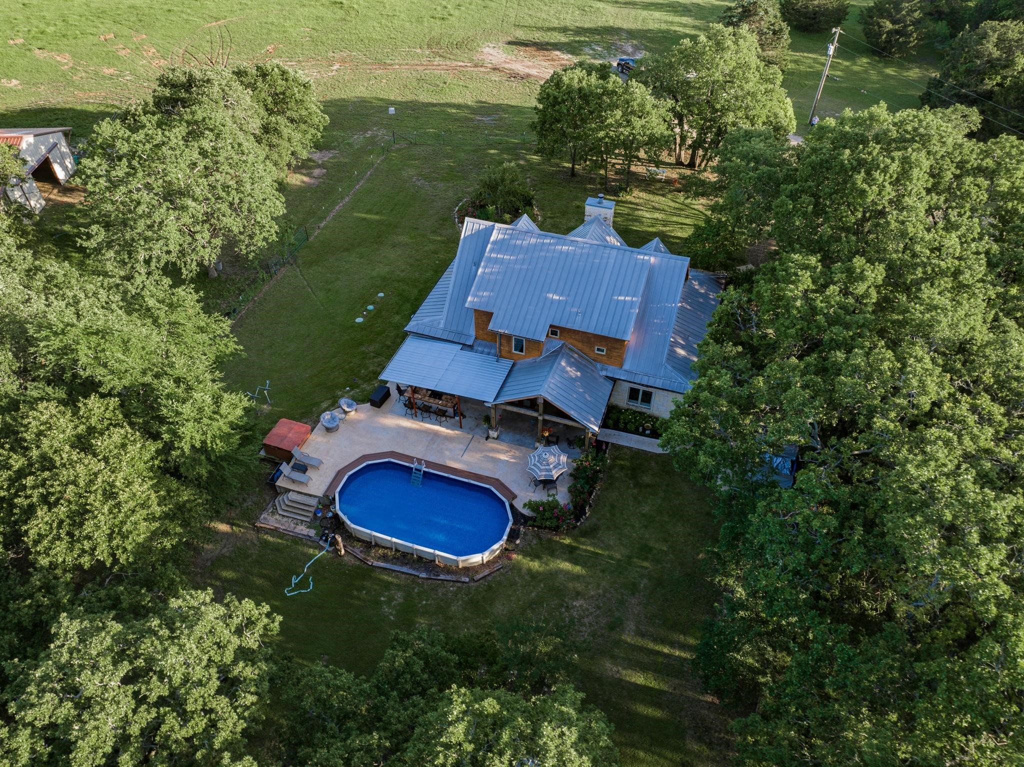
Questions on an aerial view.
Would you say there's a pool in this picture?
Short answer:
Yes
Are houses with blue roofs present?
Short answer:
Yes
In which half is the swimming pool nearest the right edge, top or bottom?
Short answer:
bottom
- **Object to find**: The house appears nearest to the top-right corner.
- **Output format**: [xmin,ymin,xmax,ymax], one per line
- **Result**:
[402,195,725,458]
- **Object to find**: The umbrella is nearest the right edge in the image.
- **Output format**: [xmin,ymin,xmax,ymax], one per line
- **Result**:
[524,445,569,486]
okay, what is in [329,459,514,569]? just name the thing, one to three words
swimming pool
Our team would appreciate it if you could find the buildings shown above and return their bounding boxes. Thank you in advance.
[402,195,725,458]
[0,129,79,217]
